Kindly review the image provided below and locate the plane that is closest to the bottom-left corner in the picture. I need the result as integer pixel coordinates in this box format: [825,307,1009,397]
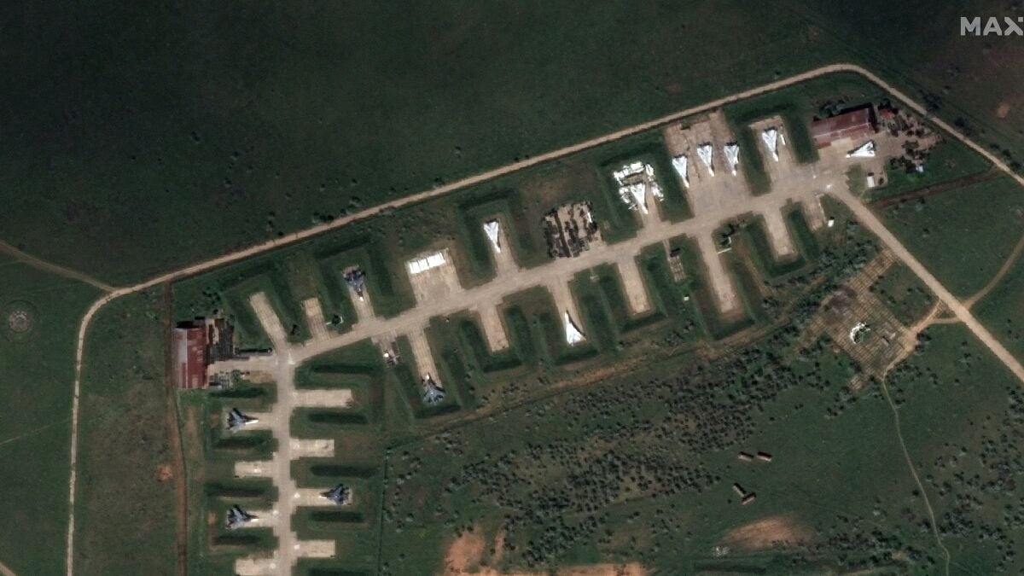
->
[228,508,257,528]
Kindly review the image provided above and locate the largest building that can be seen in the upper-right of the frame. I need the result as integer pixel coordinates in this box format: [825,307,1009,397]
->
[811,107,876,149]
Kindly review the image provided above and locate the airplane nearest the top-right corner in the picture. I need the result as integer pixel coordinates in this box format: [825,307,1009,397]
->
[848,142,878,157]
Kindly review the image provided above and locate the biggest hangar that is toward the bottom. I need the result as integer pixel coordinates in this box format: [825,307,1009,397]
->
[173,326,207,388]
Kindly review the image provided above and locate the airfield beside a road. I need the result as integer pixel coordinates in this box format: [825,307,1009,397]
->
[201,97,941,576]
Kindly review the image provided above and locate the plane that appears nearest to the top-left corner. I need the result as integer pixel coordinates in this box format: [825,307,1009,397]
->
[344,269,364,297]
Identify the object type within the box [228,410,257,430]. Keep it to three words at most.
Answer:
airplane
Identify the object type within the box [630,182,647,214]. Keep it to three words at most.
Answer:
airplane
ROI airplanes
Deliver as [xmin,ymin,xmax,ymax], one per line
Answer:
[484,220,499,251]
[848,142,878,157]
[423,375,443,405]
[228,410,257,430]
[672,155,688,187]
[344,269,364,297]
[763,129,778,161]
[630,182,647,214]
[228,508,257,528]
[566,313,585,345]
[698,145,713,176]
[724,145,740,176]
[321,485,350,506]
